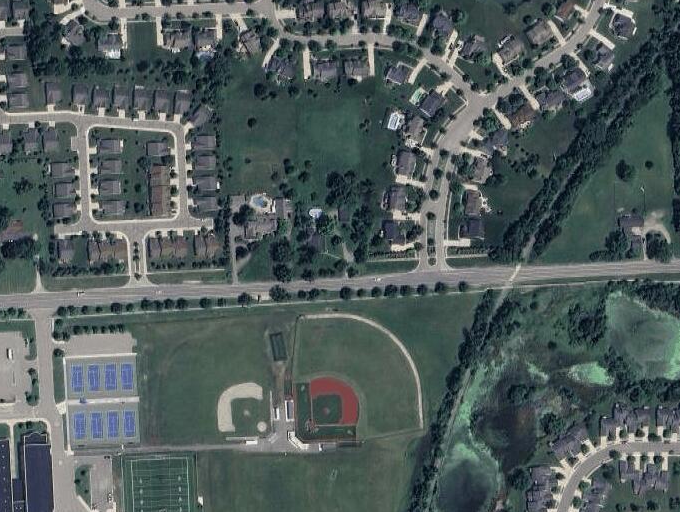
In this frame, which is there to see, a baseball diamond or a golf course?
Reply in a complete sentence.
The one in the frame is a baseball diamond.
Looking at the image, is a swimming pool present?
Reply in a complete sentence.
Yes, there is a swimming pool in the image.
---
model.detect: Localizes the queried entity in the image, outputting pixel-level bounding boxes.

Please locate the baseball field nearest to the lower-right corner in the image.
[296,314,424,441]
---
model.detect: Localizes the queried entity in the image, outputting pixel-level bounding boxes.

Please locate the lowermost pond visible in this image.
[442,452,494,512]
